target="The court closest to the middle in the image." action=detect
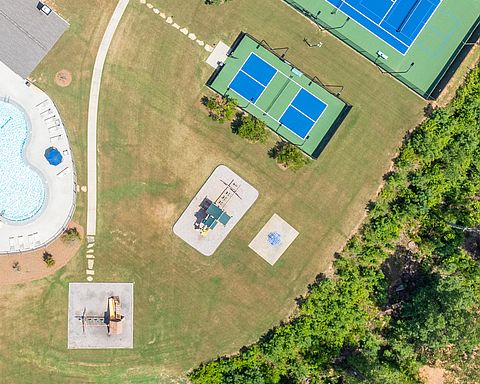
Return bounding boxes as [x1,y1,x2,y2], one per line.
[209,37,351,156]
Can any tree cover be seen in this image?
Yes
